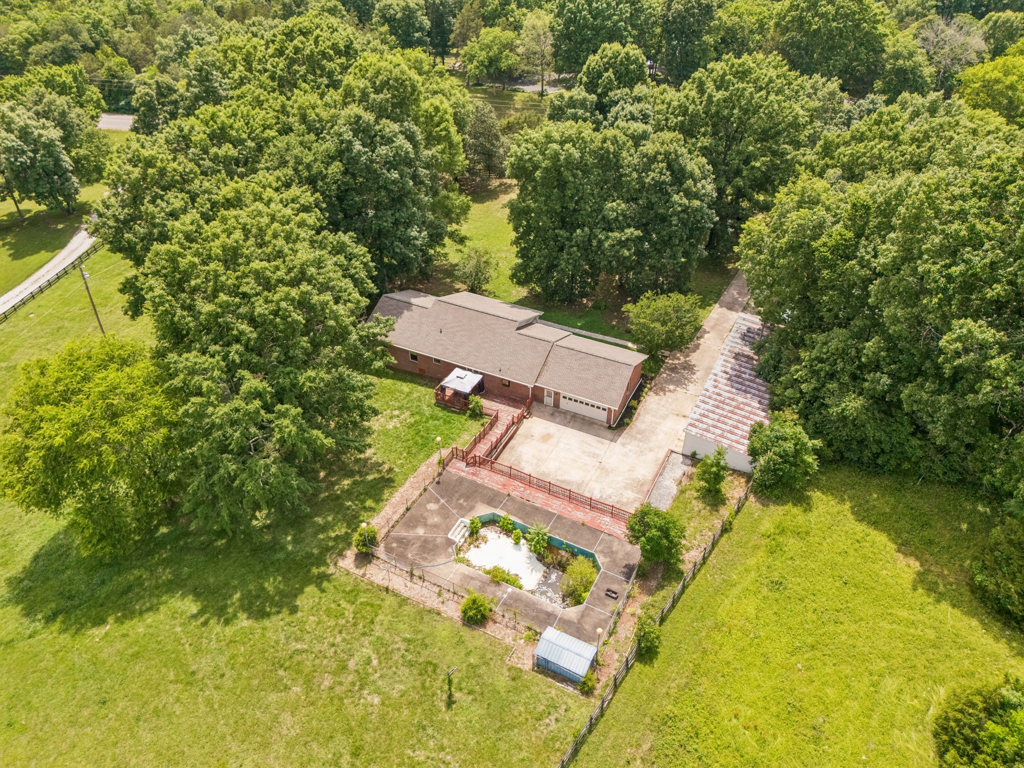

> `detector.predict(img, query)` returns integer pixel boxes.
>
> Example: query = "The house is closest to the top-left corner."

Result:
[357,293,648,424]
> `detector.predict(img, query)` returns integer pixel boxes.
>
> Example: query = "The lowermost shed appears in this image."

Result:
[533,624,599,686]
